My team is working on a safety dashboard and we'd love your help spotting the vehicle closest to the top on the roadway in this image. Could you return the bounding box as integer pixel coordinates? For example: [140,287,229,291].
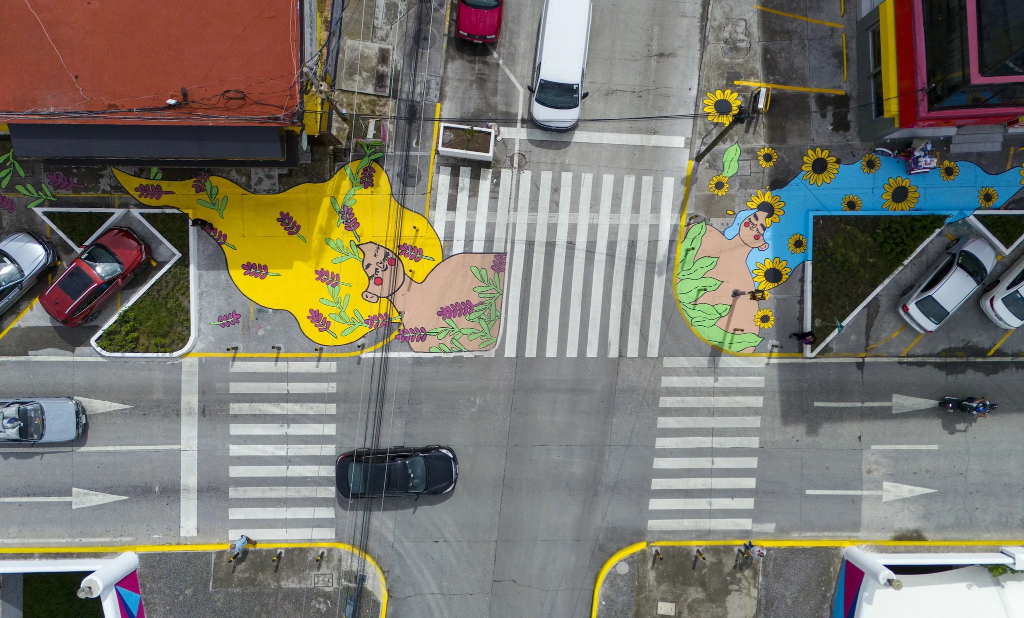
[458,0,502,43]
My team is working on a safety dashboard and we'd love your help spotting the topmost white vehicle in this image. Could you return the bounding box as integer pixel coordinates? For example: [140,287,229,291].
[527,0,595,134]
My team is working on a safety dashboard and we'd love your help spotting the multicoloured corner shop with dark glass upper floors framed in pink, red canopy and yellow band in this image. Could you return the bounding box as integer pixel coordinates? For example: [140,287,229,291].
[861,0,1024,143]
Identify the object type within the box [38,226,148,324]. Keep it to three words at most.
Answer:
car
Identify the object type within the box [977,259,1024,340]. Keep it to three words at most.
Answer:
car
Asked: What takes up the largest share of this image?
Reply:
paved ground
